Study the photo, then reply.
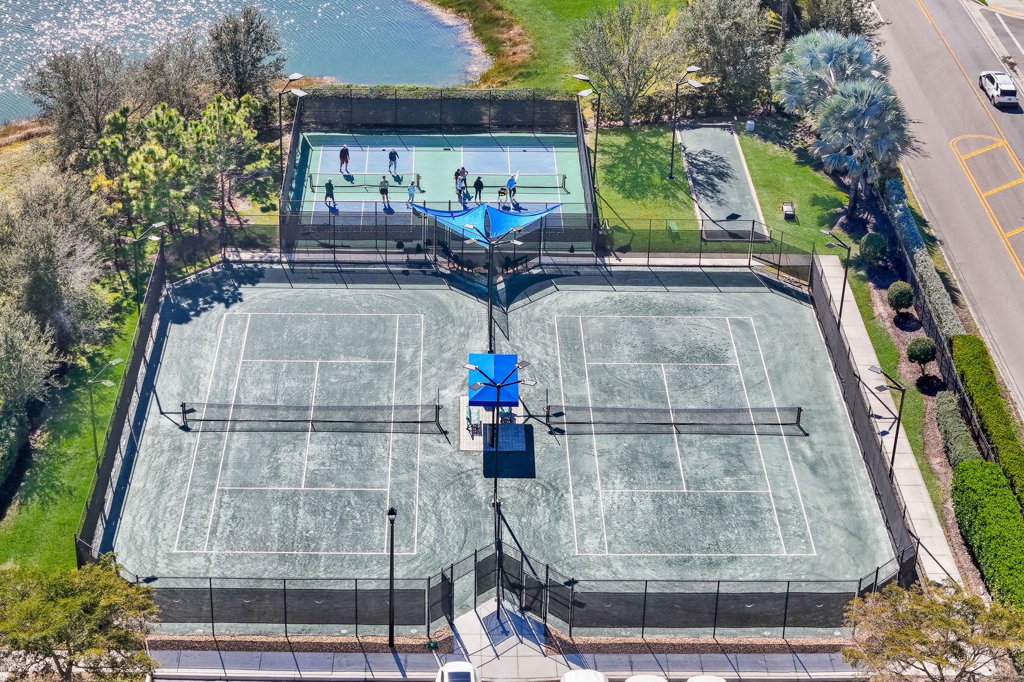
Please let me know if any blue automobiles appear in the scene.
No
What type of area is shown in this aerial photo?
sports ground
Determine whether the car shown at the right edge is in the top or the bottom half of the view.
top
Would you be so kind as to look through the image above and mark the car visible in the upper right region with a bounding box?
[979,67,1020,99]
